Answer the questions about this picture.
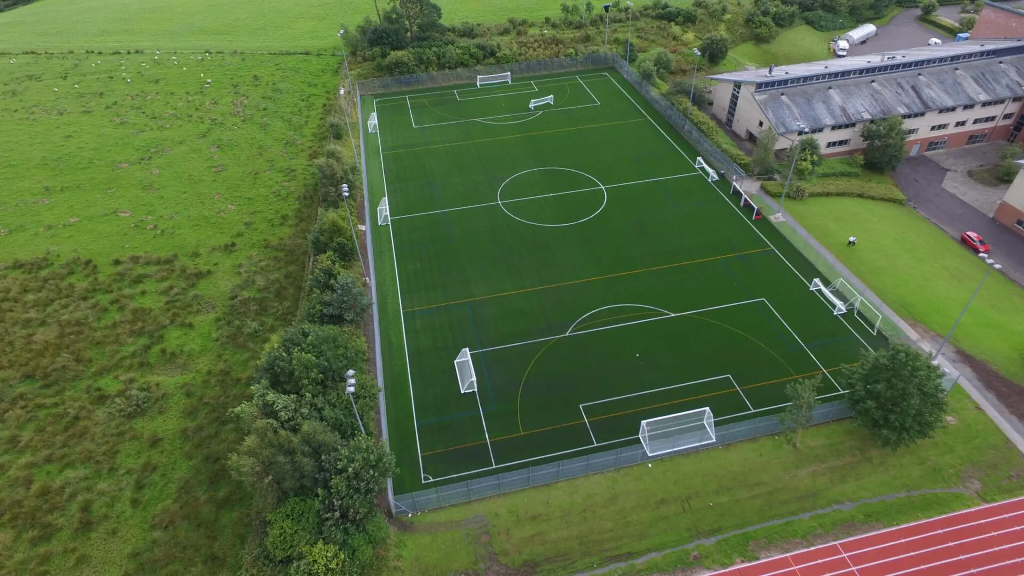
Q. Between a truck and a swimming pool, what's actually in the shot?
truck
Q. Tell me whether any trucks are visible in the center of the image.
No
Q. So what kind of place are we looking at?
sports ground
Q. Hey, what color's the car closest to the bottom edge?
red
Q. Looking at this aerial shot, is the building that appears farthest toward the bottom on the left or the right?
right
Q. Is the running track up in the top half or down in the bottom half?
bottom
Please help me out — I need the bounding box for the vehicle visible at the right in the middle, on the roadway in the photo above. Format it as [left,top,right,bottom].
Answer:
[961,232,993,253]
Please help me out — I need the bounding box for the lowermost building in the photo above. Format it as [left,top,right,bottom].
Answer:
[990,169,1024,247]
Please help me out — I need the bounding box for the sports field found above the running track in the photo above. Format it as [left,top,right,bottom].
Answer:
[362,67,897,514]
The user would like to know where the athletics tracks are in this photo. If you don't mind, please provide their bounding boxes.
[708,495,1024,576]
